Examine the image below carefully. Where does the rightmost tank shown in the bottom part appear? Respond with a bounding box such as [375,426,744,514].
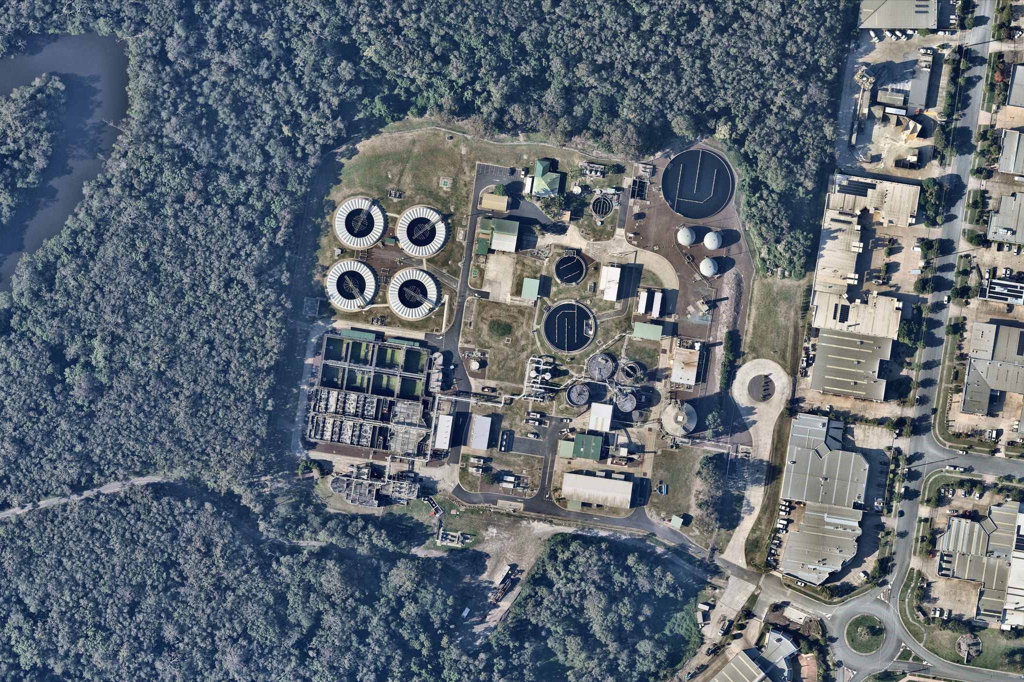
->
[659,400,697,437]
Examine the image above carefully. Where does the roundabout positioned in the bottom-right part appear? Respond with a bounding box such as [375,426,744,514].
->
[845,614,886,655]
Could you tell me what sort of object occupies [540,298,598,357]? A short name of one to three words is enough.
storage tank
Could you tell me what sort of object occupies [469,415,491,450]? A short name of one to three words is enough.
shed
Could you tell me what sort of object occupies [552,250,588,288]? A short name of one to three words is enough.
storage tank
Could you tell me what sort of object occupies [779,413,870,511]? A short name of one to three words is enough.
building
